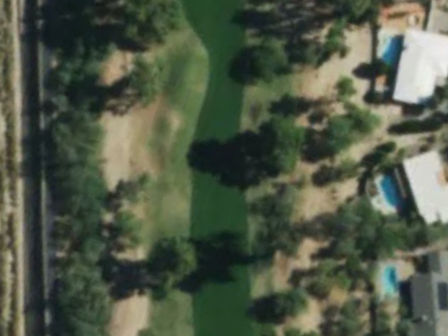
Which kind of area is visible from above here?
golf course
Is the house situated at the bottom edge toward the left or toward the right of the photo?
right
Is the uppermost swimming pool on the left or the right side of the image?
right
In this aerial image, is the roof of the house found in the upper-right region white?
Yes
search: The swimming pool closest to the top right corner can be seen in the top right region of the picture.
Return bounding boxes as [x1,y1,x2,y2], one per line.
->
[378,34,404,70]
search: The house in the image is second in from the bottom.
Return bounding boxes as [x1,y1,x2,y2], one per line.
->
[404,151,448,224]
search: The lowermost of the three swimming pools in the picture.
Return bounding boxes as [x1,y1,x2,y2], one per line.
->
[383,264,398,297]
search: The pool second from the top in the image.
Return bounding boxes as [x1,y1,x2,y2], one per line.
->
[379,174,402,210]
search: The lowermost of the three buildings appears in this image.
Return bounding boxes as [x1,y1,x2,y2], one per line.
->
[409,253,448,336]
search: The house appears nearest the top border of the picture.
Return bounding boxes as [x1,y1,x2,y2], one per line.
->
[393,28,448,105]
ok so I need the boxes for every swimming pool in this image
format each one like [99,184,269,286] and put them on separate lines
[383,264,398,297]
[378,34,404,70]
[379,174,402,210]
